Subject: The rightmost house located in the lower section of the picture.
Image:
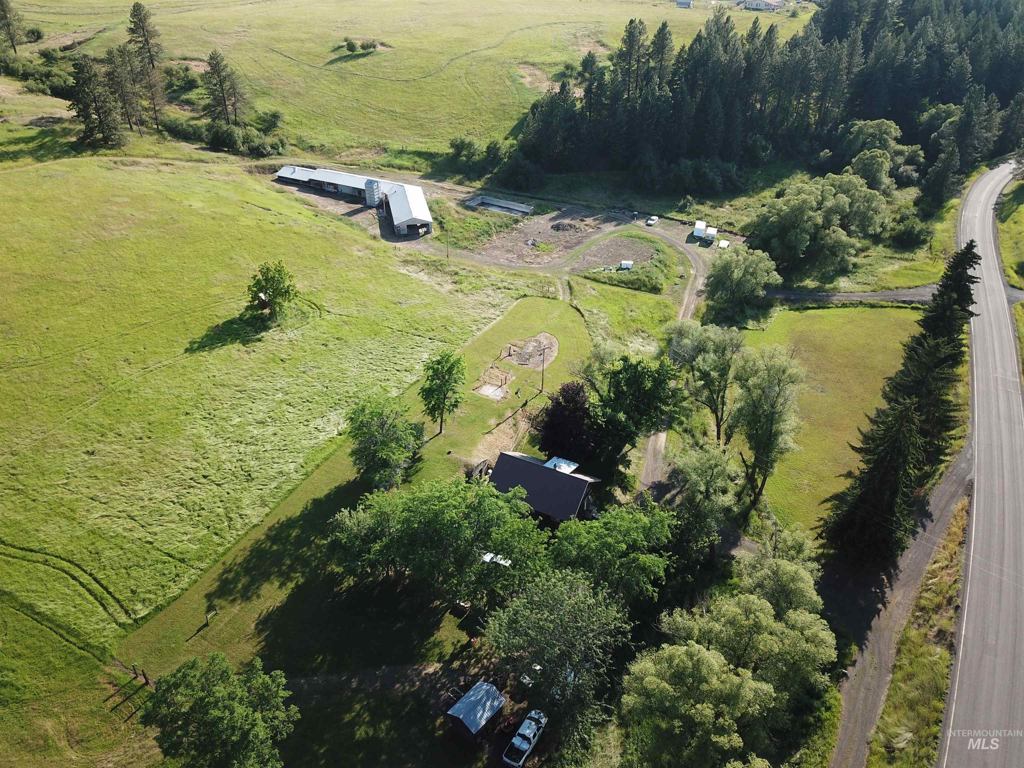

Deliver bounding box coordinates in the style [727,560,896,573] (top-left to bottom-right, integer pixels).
[487,451,601,529]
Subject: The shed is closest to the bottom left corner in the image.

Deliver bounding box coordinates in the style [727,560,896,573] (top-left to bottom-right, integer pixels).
[447,682,505,746]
